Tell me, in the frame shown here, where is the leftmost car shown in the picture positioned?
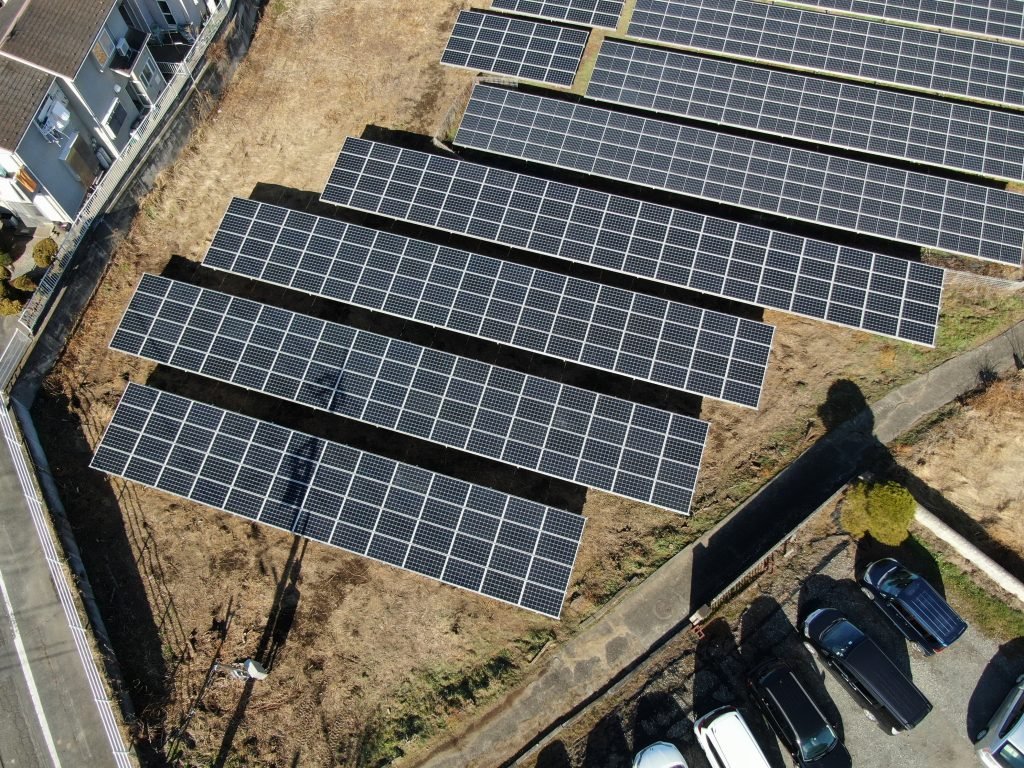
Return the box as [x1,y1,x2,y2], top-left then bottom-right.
[635,740,691,768]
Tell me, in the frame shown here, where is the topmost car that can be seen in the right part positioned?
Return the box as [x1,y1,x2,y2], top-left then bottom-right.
[864,555,973,657]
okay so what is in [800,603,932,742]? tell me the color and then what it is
black car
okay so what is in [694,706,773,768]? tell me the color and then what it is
white car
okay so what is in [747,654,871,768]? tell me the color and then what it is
black car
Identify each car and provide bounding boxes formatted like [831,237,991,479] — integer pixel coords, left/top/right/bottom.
[635,740,691,768]
[974,666,1024,768]
[800,603,932,742]
[694,706,773,768]
[747,654,871,768]
[864,555,973,657]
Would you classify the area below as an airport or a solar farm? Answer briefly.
solar farm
